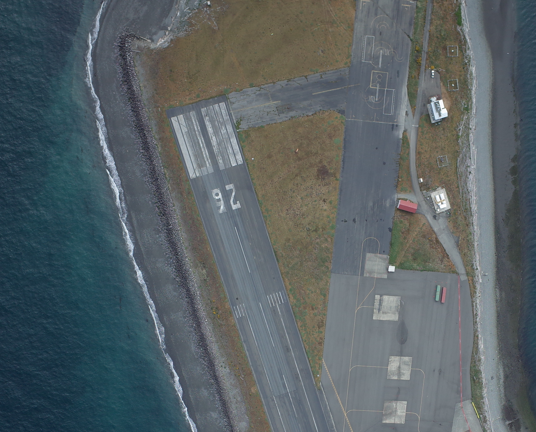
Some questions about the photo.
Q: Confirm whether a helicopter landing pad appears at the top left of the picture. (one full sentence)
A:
No, looking at the top left of the picture, there is no helicopter landing pad.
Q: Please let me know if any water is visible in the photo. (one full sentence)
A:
Yes, some water is visible.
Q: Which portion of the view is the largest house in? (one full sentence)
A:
Look in the top right portion of the view to spot the largest house.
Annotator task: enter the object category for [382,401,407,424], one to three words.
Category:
helipad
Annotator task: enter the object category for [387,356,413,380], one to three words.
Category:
helipad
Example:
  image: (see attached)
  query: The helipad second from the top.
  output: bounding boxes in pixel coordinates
[373,294,400,321]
